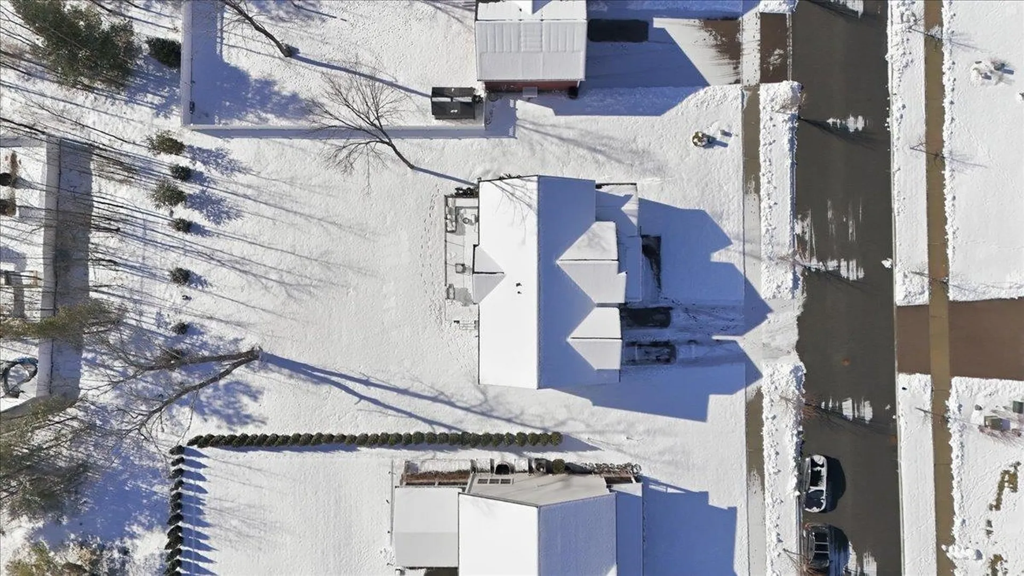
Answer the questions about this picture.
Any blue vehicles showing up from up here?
No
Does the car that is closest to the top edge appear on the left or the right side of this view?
right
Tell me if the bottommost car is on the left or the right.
right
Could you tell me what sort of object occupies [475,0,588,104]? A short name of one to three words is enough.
house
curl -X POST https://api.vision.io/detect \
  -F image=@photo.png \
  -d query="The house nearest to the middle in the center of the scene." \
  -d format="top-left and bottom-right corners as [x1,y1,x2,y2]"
[471,174,641,389]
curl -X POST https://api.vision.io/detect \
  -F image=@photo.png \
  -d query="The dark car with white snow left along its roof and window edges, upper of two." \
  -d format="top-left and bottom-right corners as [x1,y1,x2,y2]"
[801,454,829,506]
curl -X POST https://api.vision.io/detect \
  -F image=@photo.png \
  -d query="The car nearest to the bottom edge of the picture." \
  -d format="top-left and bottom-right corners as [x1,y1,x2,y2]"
[802,519,830,572]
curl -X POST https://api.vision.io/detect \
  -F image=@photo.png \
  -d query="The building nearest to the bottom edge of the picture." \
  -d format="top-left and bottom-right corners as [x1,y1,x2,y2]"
[391,472,644,576]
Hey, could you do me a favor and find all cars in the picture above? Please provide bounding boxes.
[802,519,830,572]
[801,454,829,506]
